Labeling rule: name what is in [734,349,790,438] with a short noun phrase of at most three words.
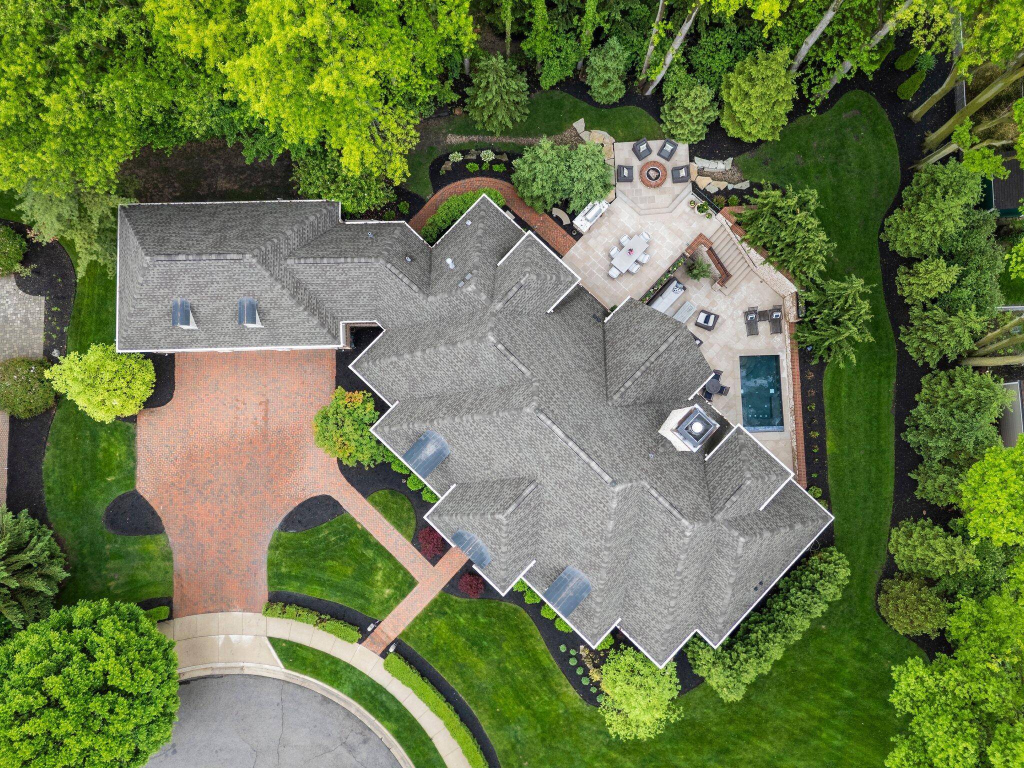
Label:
swimming pool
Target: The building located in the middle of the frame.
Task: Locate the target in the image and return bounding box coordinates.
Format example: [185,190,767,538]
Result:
[115,192,837,672]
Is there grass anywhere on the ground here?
Yes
